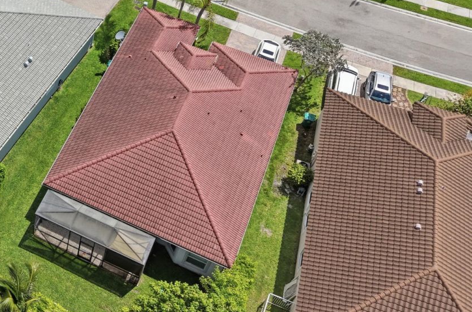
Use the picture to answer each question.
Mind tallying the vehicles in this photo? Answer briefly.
3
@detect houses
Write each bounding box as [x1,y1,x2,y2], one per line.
[41,5,299,277]
[292,86,472,312]
[0,0,105,162]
